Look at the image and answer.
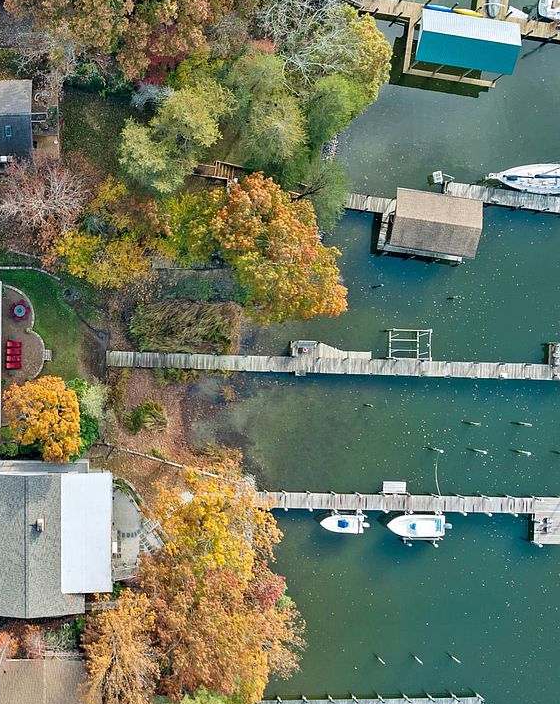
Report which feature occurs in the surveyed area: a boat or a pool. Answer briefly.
boat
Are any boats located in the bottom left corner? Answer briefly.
No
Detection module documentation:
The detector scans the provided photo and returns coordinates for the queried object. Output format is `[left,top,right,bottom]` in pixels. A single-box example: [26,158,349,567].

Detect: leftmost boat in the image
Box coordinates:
[319,516,372,534]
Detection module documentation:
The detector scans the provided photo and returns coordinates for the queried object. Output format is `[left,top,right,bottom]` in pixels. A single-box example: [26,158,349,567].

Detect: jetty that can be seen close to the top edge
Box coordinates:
[358,0,560,90]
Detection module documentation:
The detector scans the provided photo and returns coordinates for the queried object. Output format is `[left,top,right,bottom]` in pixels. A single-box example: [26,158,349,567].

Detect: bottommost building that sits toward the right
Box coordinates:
[383,188,483,259]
